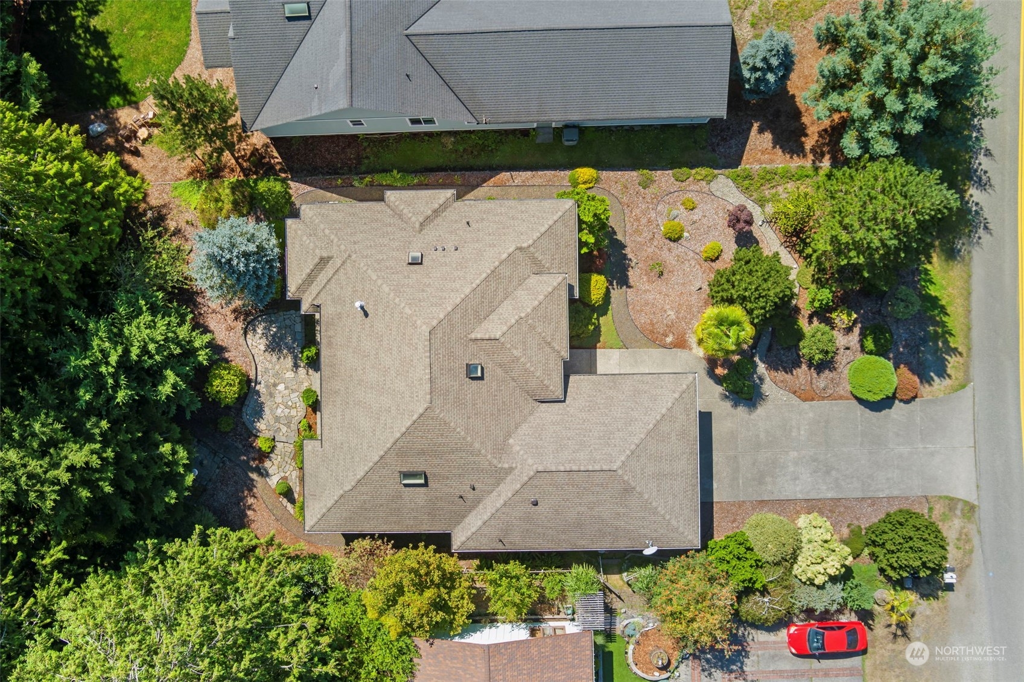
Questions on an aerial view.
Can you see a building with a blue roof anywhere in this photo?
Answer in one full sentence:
No, there isn't any building with a blue roof down there.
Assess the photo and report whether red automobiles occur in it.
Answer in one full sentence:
Yes, the picture does show a red automobile.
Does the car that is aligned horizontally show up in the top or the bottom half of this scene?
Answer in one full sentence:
The car that is aligned horizontally sits in the bottom half of the picture.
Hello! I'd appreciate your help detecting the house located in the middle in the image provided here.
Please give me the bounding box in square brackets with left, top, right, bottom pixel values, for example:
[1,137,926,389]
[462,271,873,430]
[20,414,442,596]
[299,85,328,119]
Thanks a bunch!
[284,188,702,554]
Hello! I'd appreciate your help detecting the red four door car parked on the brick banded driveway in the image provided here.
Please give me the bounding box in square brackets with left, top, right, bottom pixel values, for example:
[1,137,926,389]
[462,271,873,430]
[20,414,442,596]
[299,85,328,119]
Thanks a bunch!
[785,619,869,660]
